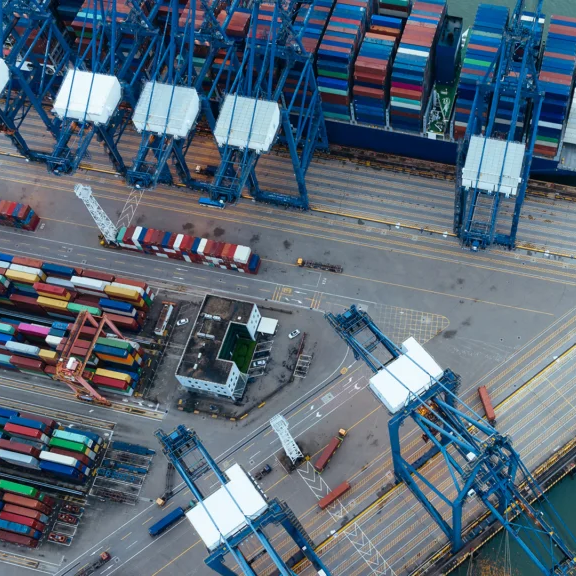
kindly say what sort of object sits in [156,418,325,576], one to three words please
container crane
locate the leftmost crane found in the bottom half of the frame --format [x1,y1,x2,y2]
[50,308,133,401]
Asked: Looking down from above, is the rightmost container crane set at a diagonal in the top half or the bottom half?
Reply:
bottom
